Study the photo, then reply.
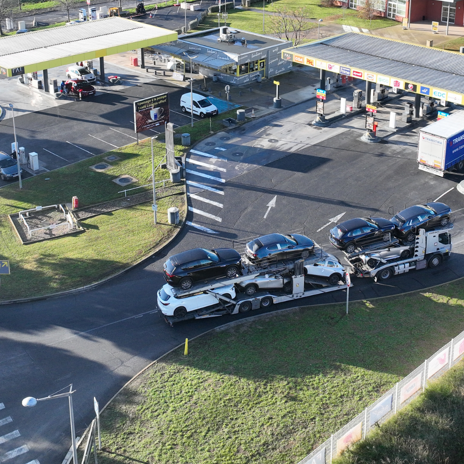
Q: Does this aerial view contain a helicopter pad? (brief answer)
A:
No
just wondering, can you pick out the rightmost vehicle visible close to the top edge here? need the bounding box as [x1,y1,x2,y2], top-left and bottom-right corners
[133,0,151,13]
